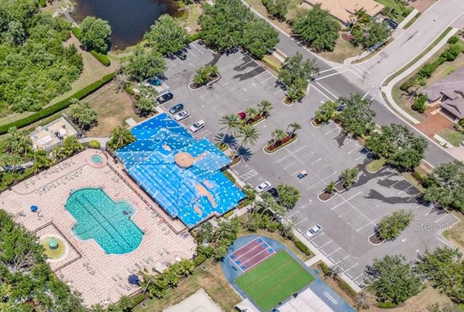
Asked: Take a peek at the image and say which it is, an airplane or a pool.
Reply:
pool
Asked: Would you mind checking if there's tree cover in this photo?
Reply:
Yes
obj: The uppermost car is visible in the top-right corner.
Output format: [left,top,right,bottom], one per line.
[384,16,399,28]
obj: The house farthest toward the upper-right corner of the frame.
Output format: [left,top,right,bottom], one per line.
[417,55,464,120]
